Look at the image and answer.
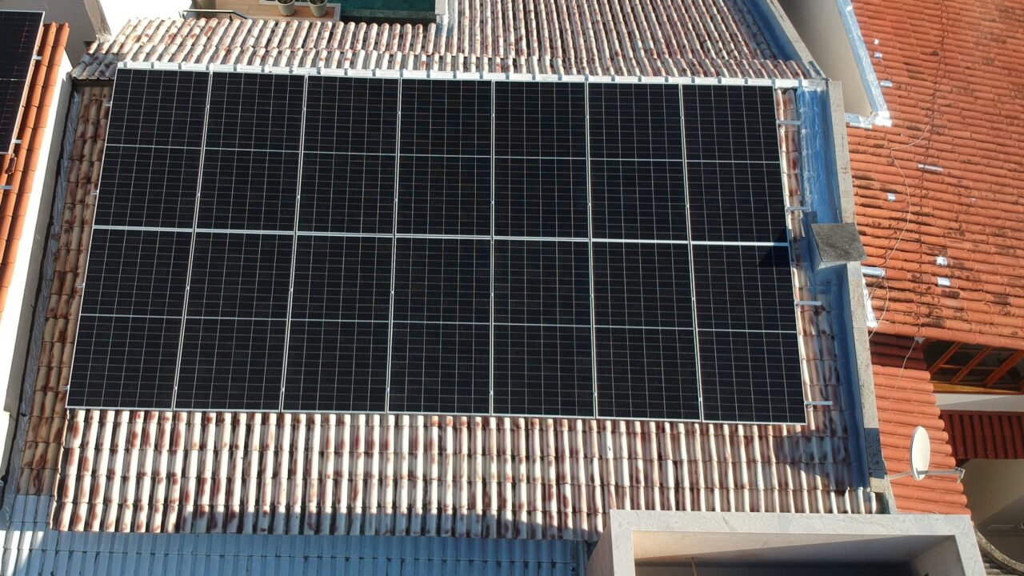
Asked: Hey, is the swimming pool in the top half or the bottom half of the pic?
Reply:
top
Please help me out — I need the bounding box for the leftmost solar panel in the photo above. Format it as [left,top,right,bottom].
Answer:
[0,15,44,159]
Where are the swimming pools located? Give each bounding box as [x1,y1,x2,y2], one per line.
[340,0,433,34]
